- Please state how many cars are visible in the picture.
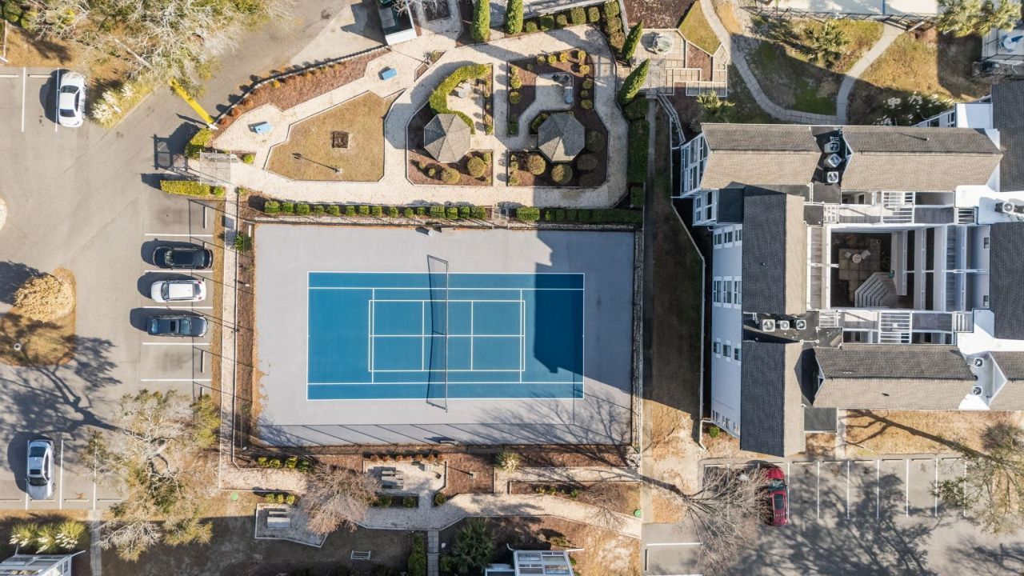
6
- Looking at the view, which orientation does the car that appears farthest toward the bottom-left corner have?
from top to bottom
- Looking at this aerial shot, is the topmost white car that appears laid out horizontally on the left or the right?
left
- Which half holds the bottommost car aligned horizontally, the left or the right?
left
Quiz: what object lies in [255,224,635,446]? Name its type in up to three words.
tennis court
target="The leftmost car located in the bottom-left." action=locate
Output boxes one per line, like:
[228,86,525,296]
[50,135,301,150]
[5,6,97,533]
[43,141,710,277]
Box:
[25,440,56,498]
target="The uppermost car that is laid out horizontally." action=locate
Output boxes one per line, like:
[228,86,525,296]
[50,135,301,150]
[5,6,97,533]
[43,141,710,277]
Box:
[154,243,214,270]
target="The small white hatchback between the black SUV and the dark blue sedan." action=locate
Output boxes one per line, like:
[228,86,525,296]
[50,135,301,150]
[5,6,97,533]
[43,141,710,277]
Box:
[152,278,206,303]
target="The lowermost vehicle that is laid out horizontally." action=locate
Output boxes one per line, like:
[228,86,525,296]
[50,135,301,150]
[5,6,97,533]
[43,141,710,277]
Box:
[147,312,208,338]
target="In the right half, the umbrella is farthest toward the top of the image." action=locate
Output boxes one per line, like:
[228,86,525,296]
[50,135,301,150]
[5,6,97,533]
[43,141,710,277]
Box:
[657,30,678,50]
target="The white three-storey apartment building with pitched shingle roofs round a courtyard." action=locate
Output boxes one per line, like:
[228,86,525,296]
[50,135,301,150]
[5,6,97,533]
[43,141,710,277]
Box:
[682,76,1024,462]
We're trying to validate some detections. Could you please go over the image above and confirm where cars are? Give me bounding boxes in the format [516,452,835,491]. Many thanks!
[57,71,87,128]
[761,466,789,525]
[25,440,56,498]
[154,243,214,270]
[152,278,206,303]
[147,312,208,338]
